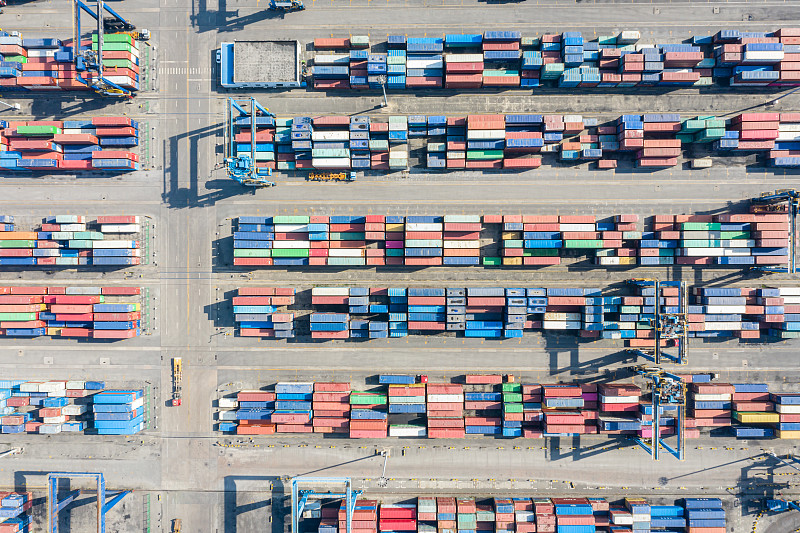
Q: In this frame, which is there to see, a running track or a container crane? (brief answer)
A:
container crane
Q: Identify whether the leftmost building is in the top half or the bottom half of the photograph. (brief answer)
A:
top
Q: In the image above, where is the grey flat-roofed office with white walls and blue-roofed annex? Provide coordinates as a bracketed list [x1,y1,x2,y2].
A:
[220,40,302,90]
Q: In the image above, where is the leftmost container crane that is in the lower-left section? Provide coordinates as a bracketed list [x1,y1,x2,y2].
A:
[44,470,137,533]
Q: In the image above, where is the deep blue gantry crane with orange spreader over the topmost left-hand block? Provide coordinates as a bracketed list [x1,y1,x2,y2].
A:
[55,0,140,99]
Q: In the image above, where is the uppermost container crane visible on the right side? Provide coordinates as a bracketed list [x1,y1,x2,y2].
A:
[745,184,800,274]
